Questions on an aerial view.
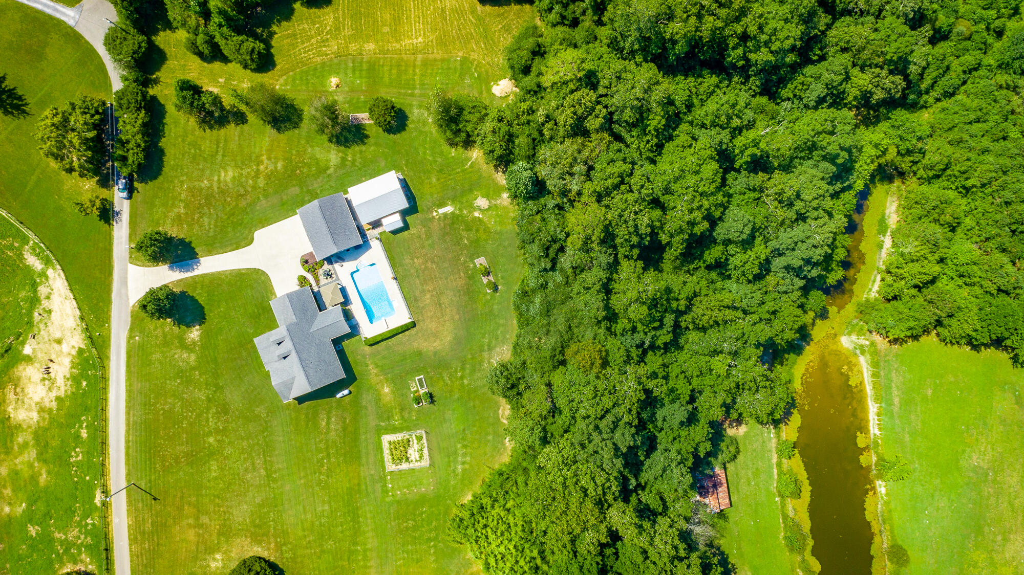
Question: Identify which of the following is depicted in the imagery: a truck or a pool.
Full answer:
This aerial view contains a pool.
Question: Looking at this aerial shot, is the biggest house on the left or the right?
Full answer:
The biggest house is on the left side of the image.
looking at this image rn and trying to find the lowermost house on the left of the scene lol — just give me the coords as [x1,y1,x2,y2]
[253,285,352,403]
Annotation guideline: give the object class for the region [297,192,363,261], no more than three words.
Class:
building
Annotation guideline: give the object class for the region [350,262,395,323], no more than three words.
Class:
swimming pool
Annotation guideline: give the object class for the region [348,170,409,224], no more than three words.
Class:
barn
